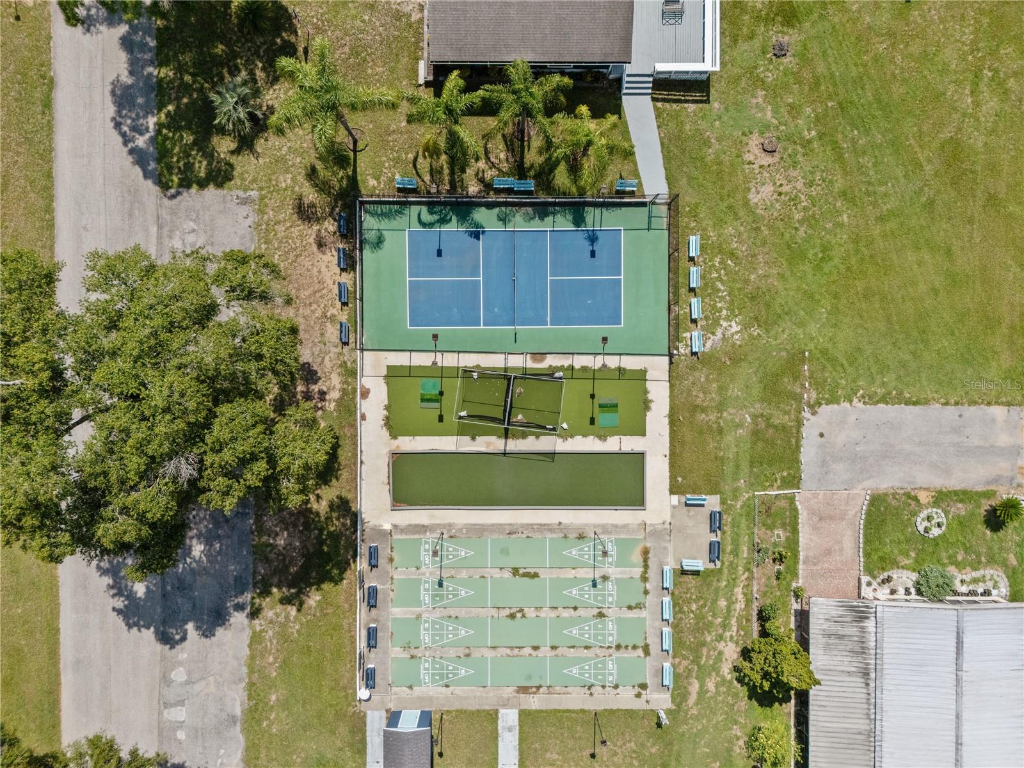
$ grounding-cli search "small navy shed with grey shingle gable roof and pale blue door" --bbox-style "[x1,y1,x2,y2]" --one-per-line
[384,710,432,768]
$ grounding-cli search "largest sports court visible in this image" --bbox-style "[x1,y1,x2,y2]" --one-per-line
[362,203,670,354]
